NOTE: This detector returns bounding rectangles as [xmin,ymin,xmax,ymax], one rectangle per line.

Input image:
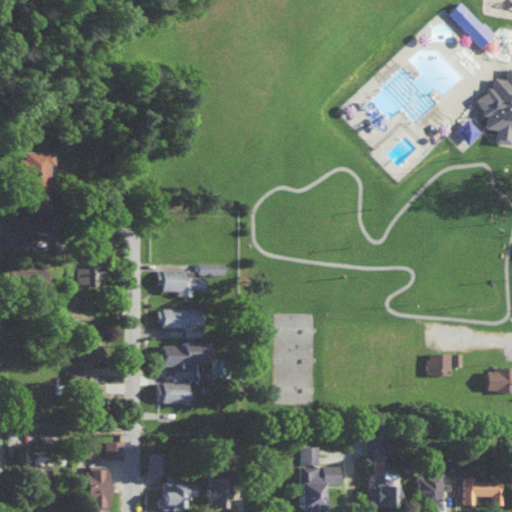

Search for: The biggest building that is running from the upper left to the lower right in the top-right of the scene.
[452,3,496,49]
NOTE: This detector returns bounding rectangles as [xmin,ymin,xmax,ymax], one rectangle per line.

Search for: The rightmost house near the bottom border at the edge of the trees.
[462,478,505,507]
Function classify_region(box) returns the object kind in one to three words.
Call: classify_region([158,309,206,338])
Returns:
house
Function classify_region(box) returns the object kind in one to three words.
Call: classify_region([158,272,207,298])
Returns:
house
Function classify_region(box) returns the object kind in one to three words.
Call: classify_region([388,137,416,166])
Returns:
swimming pool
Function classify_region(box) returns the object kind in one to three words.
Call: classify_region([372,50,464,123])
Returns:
swimming pool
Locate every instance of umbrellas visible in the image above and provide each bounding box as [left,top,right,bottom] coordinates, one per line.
[440,125,451,137]
[461,35,472,47]
[419,35,430,46]
[486,41,498,53]
[345,106,357,117]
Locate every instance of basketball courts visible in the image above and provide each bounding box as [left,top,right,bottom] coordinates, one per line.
[272,313,314,404]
